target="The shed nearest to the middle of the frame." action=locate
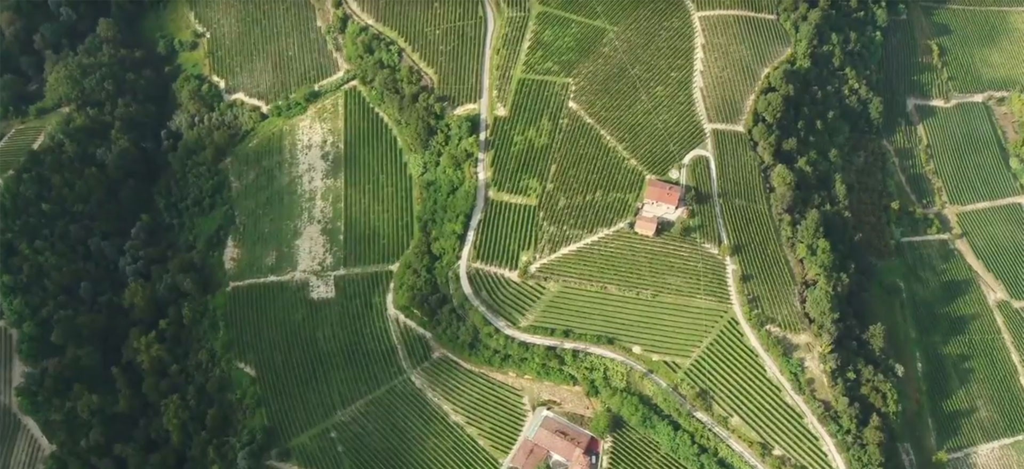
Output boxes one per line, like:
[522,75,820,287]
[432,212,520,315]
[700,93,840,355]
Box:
[635,215,658,237]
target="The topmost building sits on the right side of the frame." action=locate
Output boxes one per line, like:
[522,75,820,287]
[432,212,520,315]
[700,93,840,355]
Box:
[642,180,681,212]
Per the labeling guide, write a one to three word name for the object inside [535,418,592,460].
building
